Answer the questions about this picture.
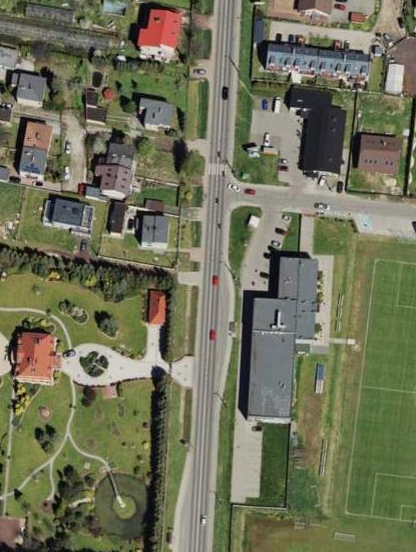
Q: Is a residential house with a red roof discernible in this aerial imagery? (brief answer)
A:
Yes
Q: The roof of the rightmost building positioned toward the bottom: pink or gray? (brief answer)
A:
gray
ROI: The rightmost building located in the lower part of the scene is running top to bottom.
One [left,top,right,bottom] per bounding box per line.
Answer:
[248,257,318,423]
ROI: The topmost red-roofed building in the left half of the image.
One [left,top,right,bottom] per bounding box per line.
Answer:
[137,8,181,51]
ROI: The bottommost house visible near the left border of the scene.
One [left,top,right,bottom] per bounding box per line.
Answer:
[14,333,59,383]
